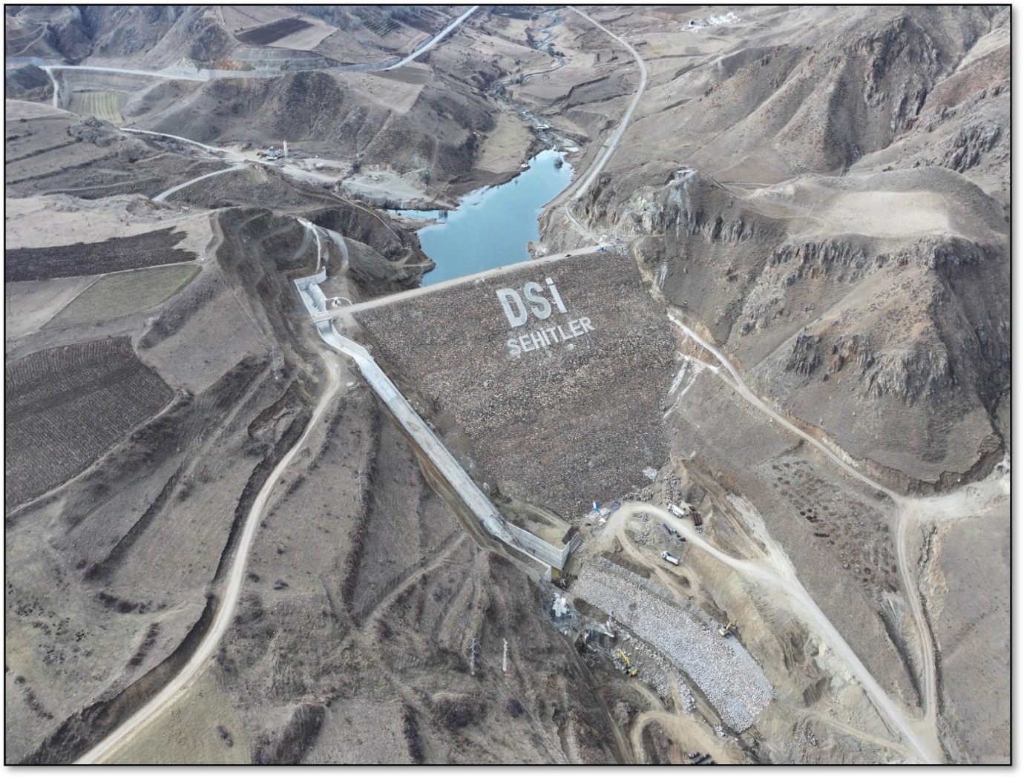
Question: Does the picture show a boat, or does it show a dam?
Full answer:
Looking from above, you can make out a dam.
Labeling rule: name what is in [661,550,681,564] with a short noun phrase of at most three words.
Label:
vehicle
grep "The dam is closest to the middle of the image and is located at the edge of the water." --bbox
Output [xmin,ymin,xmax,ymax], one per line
[328,242,679,529]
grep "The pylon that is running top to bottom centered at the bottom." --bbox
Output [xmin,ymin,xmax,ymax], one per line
[464,634,479,674]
